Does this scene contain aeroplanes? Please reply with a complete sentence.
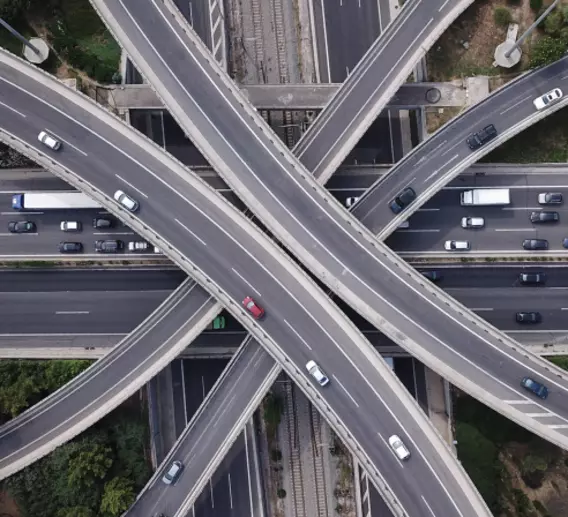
No, I can see no aeroplane in this picture.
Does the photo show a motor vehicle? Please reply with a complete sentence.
Yes, there's a motor vehicle here.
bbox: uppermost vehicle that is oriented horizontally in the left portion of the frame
[12,192,103,211]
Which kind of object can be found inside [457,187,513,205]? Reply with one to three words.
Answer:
vehicle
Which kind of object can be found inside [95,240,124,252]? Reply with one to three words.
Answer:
vehicle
